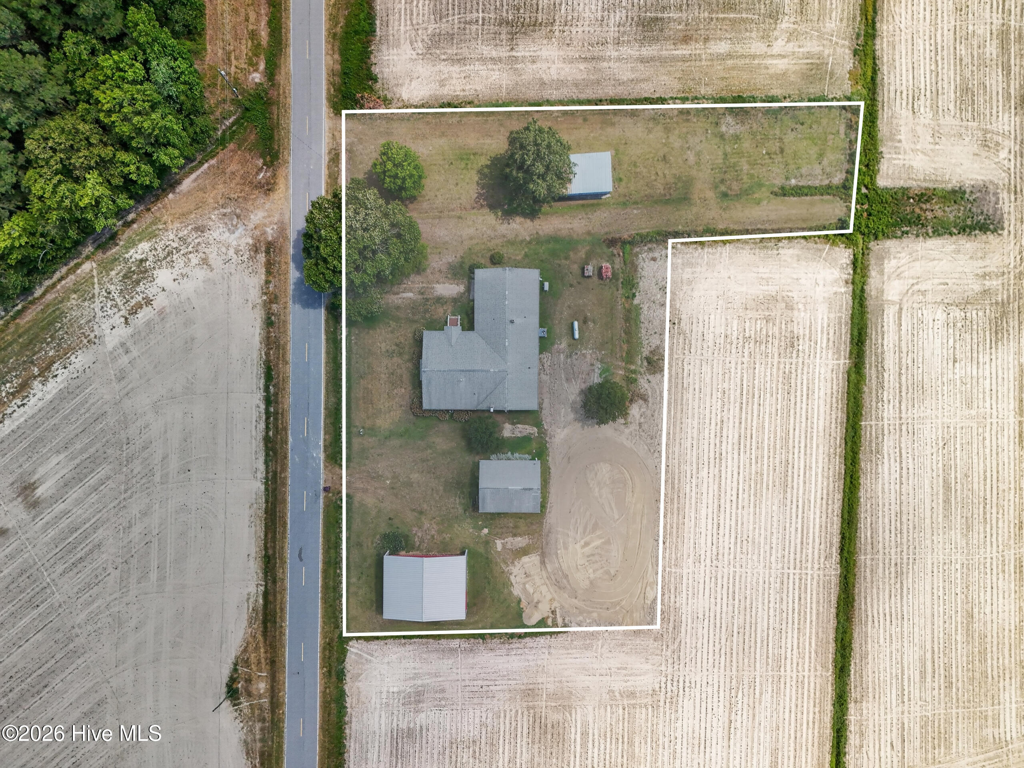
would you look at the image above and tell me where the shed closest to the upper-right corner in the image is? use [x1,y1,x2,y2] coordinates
[556,151,613,200]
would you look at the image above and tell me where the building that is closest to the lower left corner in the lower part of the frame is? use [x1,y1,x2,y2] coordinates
[383,549,468,622]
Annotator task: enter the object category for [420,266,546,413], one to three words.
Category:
house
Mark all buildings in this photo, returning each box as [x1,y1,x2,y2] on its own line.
[556,151,613,200]
[478,459,541,513]
[420,266,546,413]
[383,549,468,622]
